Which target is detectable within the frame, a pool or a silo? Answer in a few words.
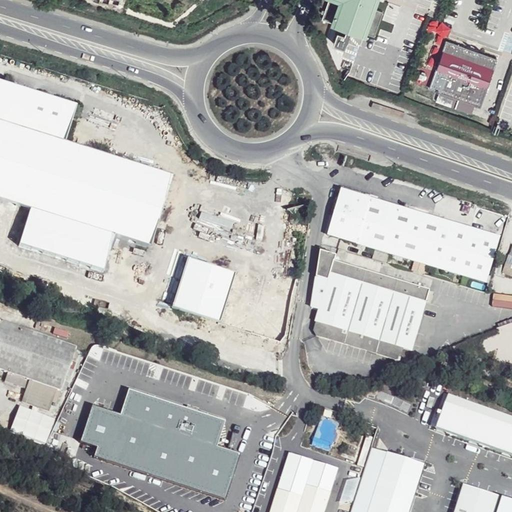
pool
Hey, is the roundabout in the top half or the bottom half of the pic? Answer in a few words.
top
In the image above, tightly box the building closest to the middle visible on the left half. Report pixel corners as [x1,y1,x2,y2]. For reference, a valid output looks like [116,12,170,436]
[173,256,234,321]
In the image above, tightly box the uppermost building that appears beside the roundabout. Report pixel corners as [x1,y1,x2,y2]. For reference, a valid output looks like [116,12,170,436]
[324,0,378,54]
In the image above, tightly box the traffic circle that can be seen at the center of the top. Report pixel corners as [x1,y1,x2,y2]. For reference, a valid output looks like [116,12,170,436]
[186,26,321,160]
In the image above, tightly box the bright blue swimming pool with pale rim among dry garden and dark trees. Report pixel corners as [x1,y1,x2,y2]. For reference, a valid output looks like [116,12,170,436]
[311,417,340,451]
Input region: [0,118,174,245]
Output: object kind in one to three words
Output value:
warehouse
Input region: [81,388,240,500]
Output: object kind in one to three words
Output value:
building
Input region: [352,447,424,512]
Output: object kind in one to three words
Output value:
building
